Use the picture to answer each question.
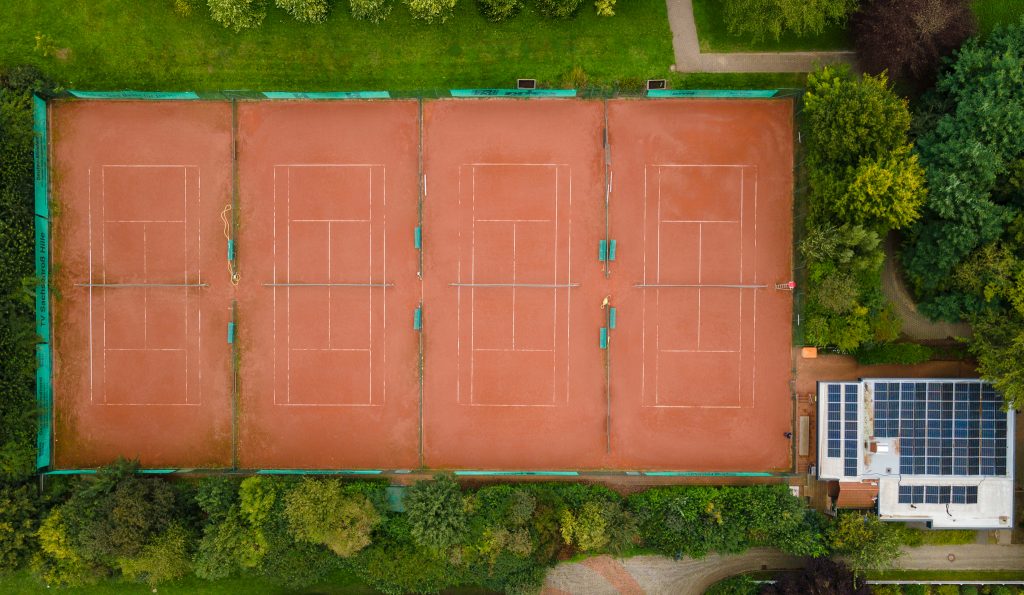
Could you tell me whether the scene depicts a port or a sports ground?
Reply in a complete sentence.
It's a sports ground.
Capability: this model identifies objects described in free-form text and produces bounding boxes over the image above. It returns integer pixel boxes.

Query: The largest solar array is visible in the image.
[875,383,1006,475]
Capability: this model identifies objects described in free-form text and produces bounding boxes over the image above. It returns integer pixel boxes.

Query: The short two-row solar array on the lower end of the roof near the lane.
[900,486,978,504]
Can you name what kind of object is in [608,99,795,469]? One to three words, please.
tennis court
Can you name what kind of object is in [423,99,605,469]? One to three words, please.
tennis court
